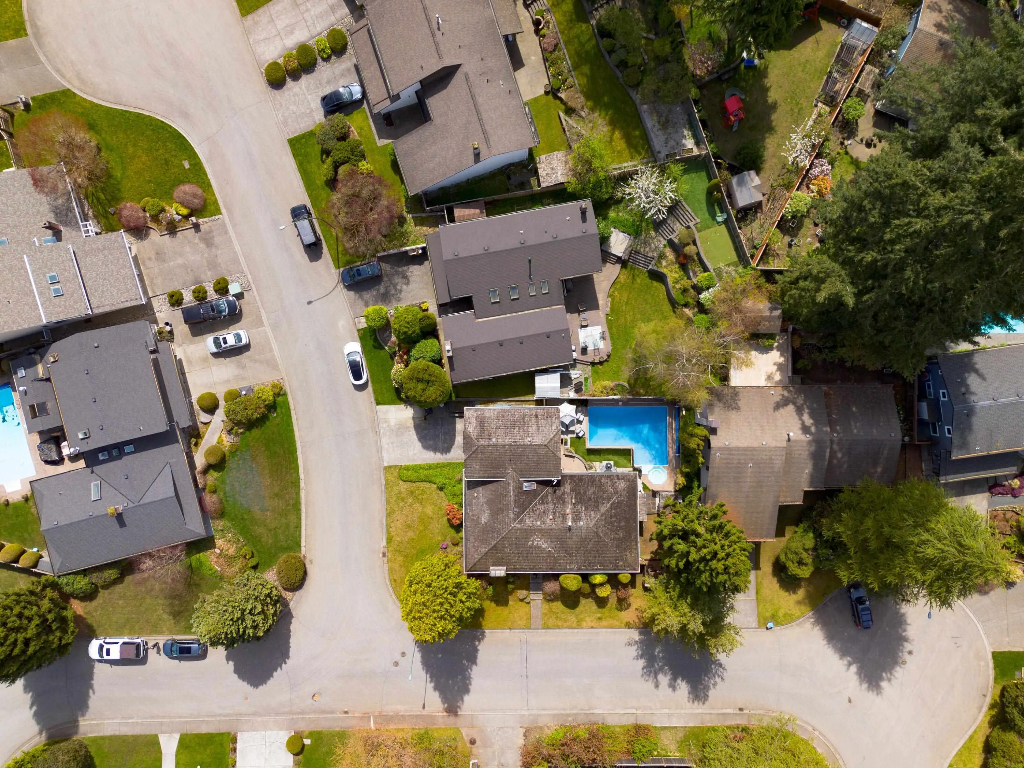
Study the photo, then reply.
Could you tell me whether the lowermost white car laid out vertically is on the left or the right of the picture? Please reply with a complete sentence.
The lowermost white car laid out vertically sits on the left side.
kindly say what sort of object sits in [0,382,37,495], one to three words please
swimming pool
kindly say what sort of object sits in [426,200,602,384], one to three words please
house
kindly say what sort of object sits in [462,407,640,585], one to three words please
house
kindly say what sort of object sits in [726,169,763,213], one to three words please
shed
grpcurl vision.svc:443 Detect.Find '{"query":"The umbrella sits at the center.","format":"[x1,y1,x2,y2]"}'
[560,402,582,430]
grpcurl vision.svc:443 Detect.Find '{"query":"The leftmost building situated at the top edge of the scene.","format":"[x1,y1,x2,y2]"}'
[347,0,538,198]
